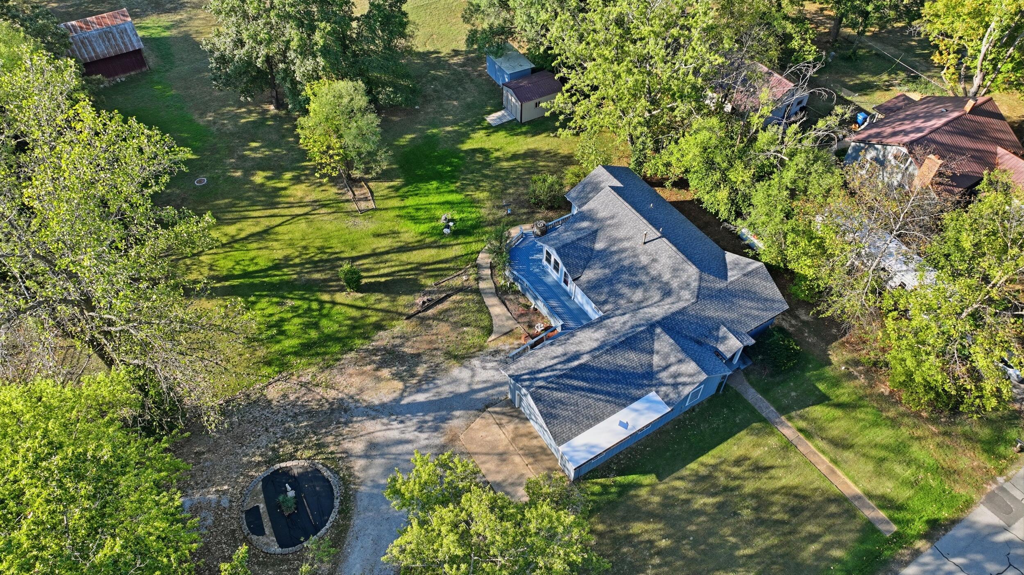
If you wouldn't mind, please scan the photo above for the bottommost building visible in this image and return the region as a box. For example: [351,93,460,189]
[500,165,790,482]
